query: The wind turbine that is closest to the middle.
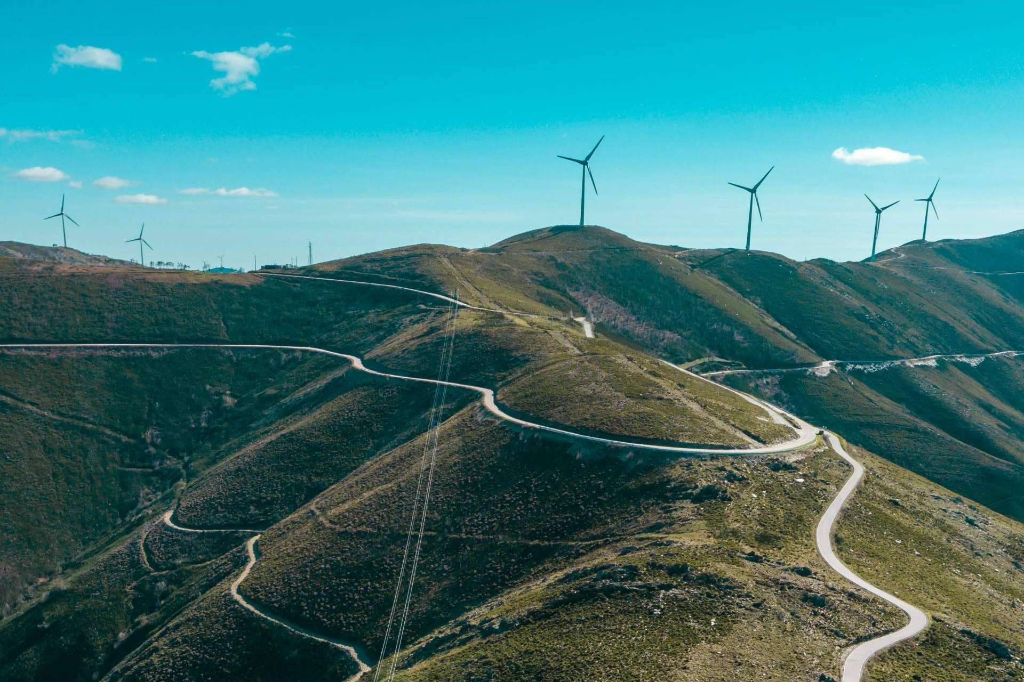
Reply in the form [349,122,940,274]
[554,130,603,227]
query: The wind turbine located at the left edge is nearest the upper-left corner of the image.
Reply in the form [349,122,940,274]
[42,195,80,247]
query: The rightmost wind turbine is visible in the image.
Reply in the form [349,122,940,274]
[908,177,938,240]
